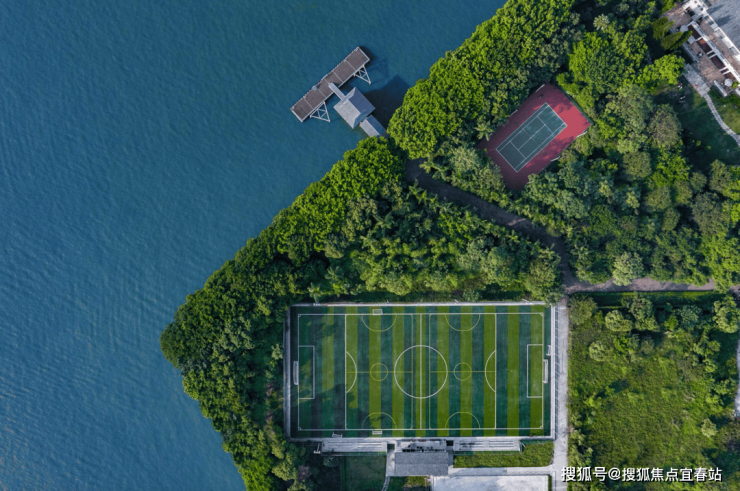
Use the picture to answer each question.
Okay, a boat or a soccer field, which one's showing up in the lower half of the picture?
soccer field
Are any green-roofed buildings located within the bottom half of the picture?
No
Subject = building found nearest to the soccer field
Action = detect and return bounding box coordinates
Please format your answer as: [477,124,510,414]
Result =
[395,448,449,476]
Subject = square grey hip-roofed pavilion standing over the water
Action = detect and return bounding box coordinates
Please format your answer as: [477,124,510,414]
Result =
[334,87,375,129]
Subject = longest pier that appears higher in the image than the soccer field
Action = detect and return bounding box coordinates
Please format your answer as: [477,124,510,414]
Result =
[289,46,371,123]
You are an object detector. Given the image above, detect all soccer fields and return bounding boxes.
[290,305,551,438]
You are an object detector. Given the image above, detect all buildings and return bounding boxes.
[677,0,740,93]
[334,87,375,129]
[395,448,449,476]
